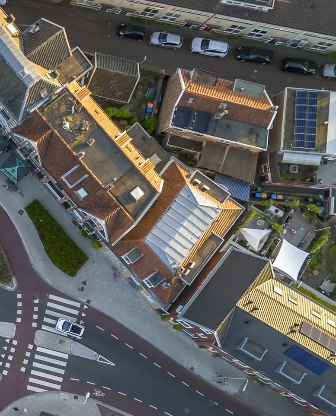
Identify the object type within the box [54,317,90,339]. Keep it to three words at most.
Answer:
car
